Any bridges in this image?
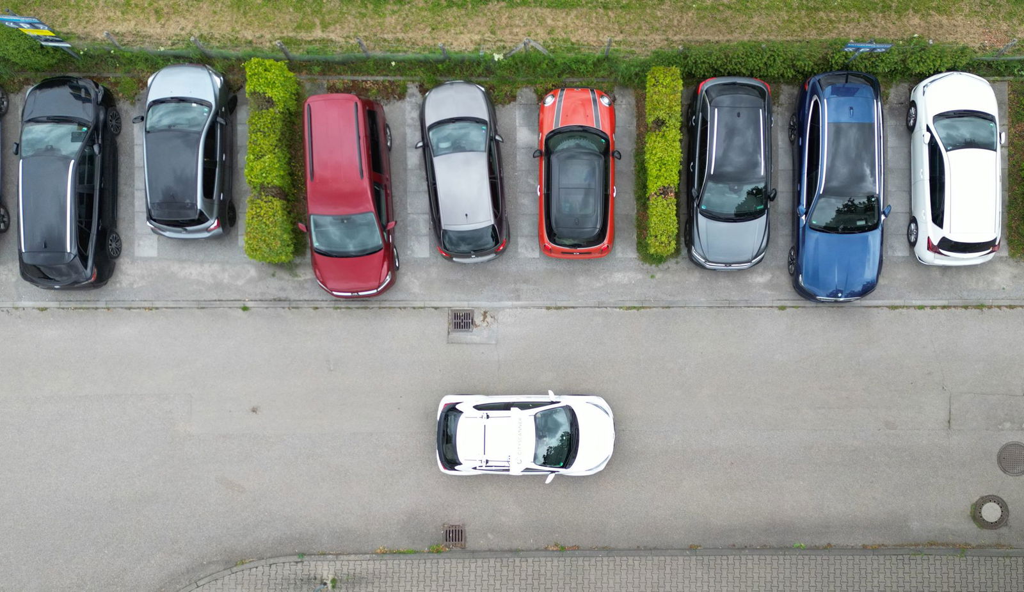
No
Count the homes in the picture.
0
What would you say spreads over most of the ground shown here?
paved ground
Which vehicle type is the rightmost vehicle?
automobile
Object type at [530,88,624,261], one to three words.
car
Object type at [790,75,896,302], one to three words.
car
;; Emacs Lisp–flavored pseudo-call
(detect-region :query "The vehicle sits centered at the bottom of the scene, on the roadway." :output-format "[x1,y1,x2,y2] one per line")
[435,388,615,484]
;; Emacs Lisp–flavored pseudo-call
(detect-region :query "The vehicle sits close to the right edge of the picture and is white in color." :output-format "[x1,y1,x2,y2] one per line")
[908,72,1012,267]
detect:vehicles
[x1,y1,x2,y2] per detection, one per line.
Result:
[131,65,235,239]
[908,72,1012,267]
[790,75,896,302]
[293,95,398,301]
[685,79,783,272]
[435,388,615,484]
[7,77,123,290]
[413,81,512,264]
[530,88,624,261]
